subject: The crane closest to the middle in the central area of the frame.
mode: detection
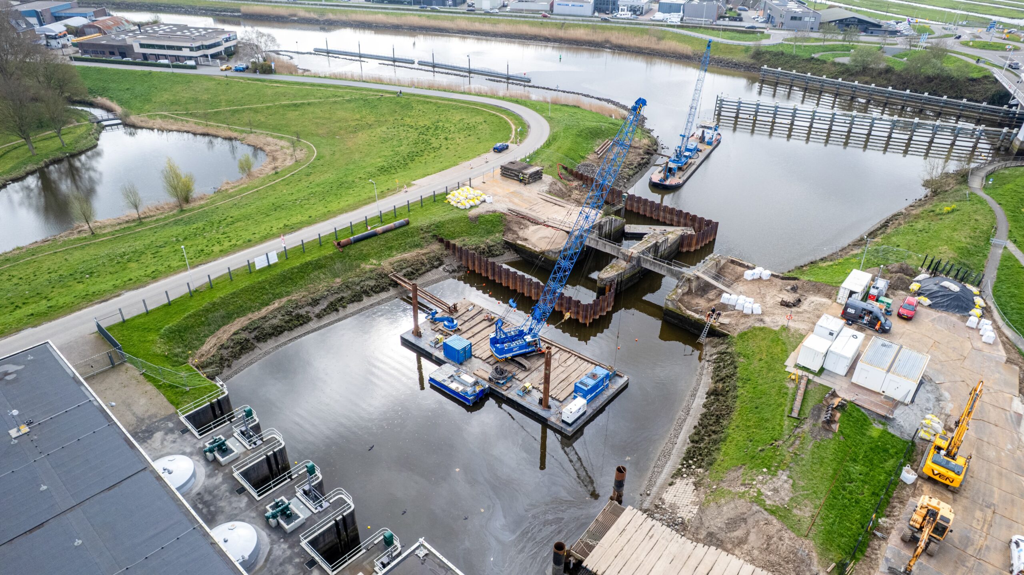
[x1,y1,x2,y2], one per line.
[483,95,654,370]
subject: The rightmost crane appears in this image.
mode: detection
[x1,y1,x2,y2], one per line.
[665,37,712,162]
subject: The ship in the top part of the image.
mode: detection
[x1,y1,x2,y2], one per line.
[648,113,731,191]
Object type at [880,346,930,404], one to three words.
building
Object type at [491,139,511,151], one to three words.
vehicle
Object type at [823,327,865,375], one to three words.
shipping container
